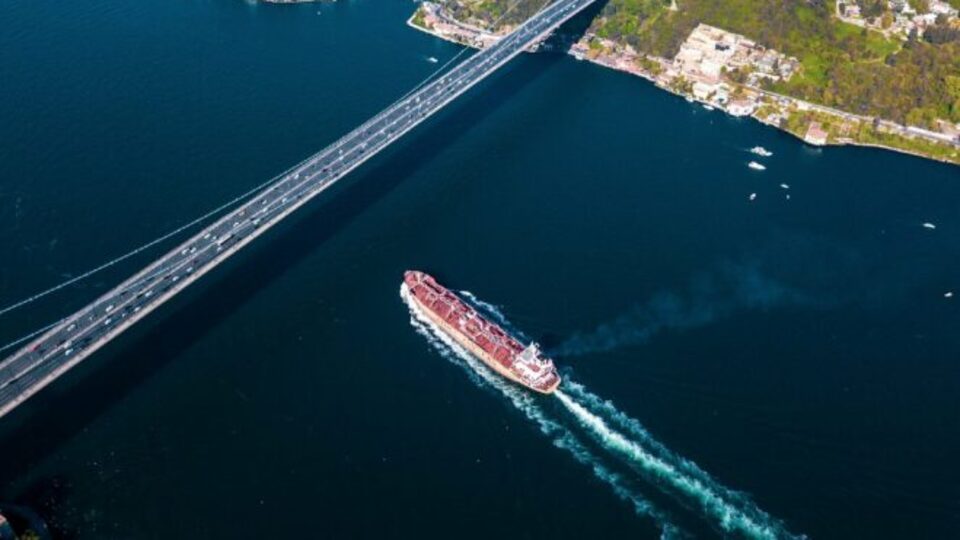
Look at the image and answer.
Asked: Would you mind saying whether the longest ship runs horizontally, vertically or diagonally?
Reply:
diagonally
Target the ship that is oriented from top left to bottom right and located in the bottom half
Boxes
[401,268,568,395]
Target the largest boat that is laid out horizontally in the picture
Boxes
[748,142,772,155]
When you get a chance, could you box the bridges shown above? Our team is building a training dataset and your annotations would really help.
[0,0,624,413]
